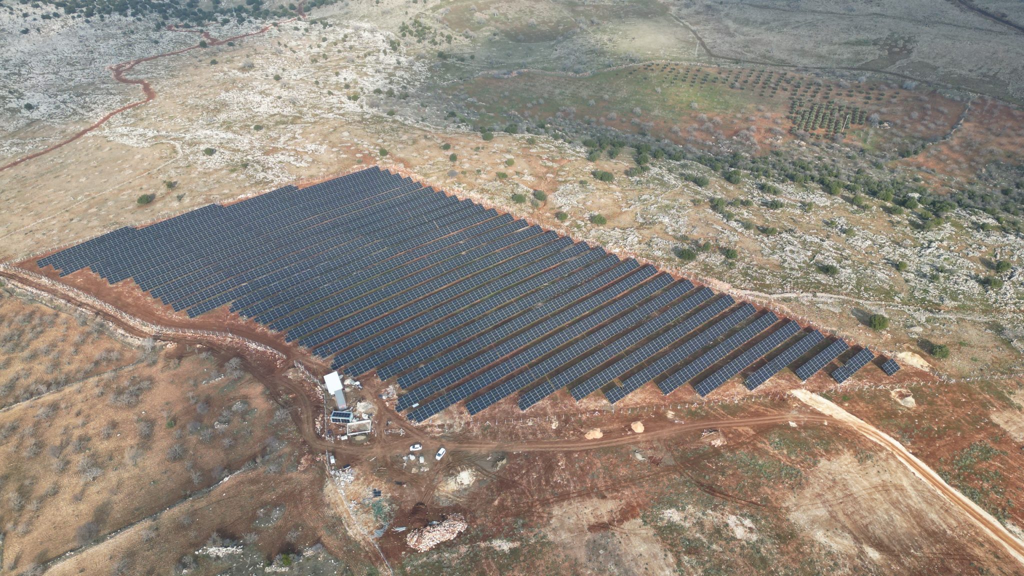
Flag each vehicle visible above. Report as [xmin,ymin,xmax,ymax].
[408,443,424,453]
[435,447,447,460]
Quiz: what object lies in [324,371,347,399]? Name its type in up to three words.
shed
